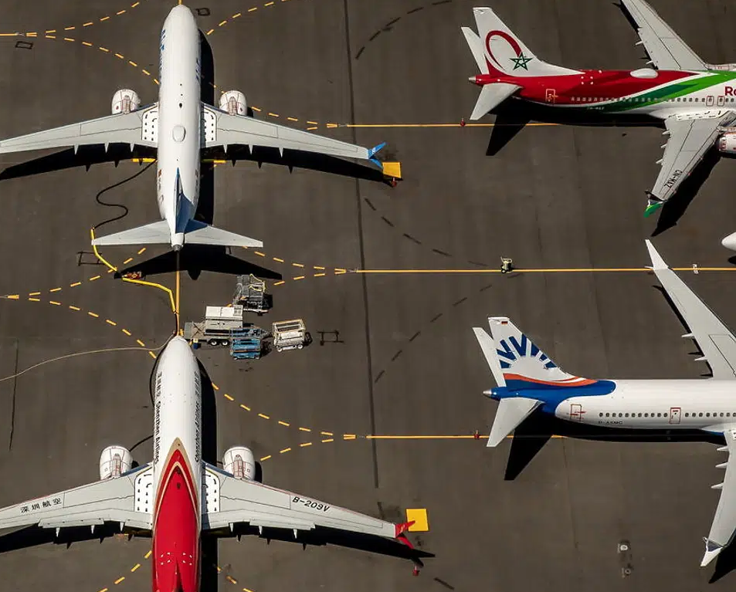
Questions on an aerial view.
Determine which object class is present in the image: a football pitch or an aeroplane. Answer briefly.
aeroplane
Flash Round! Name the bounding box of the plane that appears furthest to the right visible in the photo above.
[715,230,736,256]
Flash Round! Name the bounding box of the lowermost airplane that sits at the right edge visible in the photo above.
[474,243,736,566]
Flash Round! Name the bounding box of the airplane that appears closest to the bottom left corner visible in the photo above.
[0,336,417,592]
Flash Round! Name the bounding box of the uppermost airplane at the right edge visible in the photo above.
[461,0,736,219]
